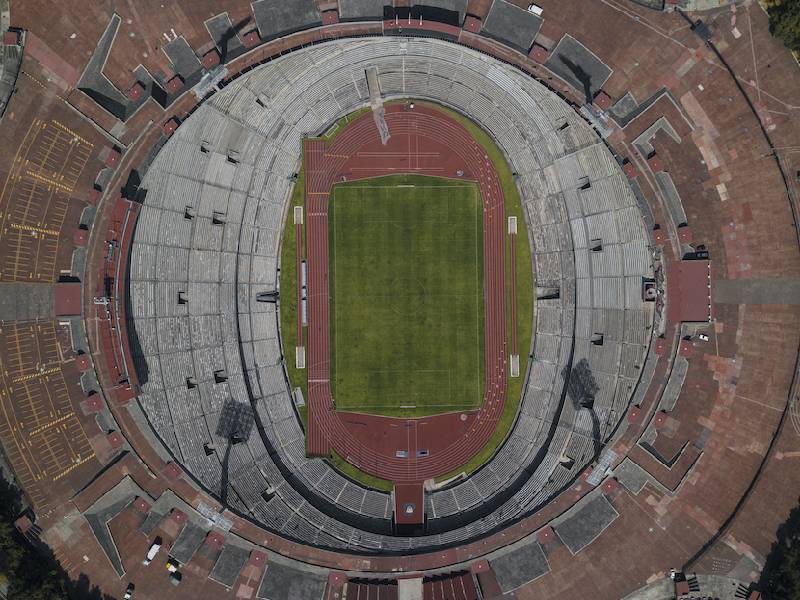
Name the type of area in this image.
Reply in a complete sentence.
The picture captures a sports ground.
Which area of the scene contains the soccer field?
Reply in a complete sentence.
You can find the soccer field in the center area of the picture.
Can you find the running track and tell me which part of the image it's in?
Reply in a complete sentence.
The running track is located in the center region of the scene.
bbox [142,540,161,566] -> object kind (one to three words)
vehicle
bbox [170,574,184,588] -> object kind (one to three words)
vehicle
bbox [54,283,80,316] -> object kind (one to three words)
building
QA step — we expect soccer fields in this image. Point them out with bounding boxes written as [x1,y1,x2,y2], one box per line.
[330,173,484,419]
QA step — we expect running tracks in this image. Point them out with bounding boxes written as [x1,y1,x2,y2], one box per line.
[302,102,505,480]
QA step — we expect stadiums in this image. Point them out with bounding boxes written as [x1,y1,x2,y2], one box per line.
[70,12,696,580]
